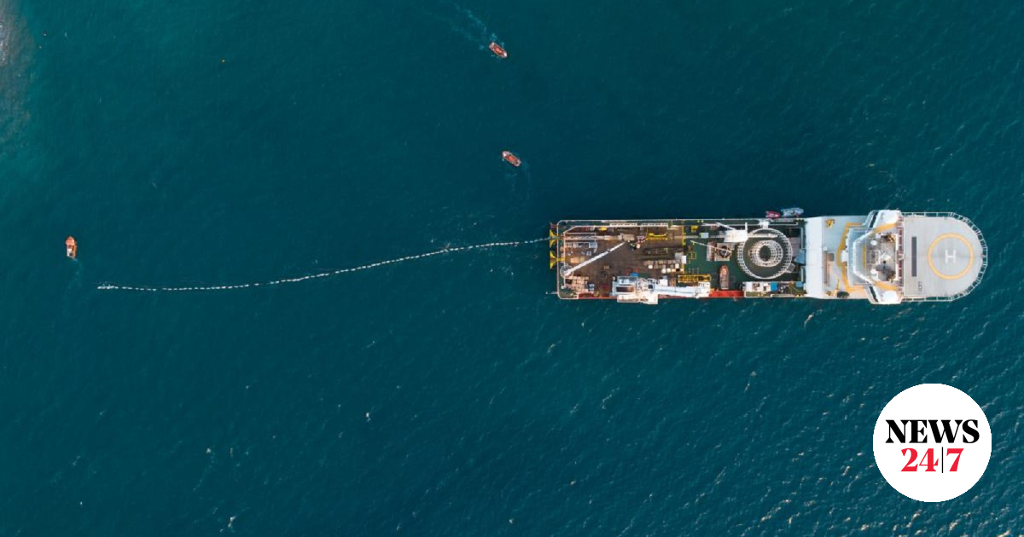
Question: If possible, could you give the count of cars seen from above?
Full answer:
No cars are visible.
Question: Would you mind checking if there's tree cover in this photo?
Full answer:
No, tree cover can't be seen anywhere here.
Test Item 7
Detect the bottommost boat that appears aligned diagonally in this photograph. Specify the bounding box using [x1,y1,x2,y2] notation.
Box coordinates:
[503,151,522,167]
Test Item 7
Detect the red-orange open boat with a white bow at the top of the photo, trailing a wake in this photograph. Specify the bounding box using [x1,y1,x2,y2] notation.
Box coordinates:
[488,40,507,57]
